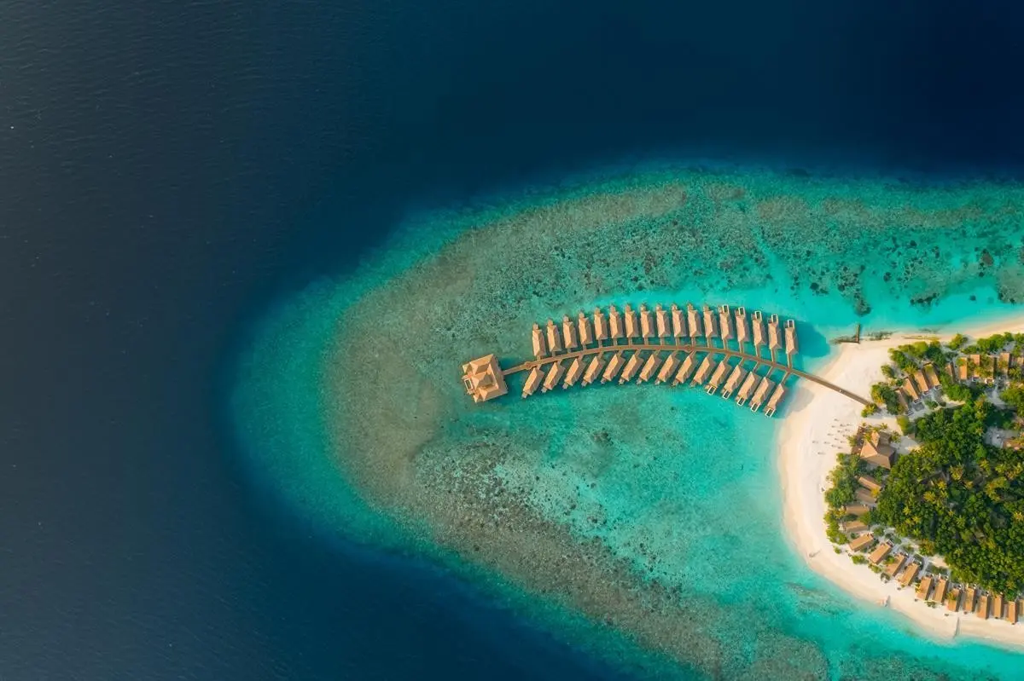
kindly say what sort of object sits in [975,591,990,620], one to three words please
house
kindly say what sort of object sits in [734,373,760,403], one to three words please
house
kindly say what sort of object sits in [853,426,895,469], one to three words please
building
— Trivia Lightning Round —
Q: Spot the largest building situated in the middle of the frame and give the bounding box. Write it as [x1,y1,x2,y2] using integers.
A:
[462,354,508,403]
